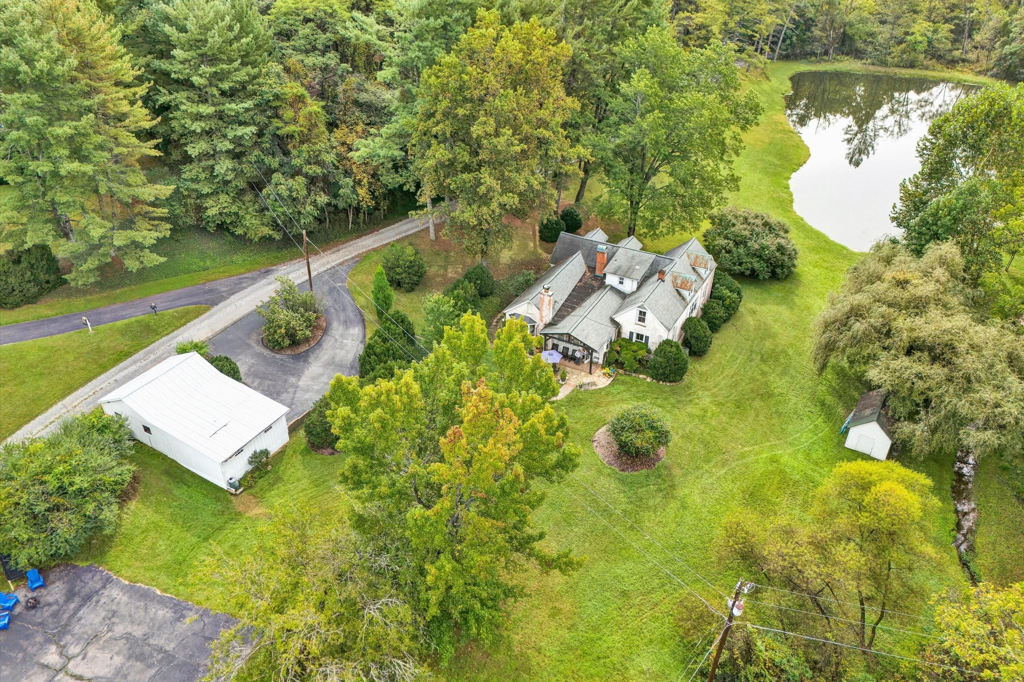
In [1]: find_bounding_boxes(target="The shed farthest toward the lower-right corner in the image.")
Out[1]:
[845,389,907,458]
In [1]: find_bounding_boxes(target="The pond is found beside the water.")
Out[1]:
[787,74,1005,252]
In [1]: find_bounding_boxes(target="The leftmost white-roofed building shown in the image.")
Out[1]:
[96,354,293,490]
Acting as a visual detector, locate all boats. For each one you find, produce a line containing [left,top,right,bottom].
[836,418,851,441]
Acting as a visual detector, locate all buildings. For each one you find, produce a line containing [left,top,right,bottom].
[96,354,293,490]
[845,389,907,458]
[504,227,718,375]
